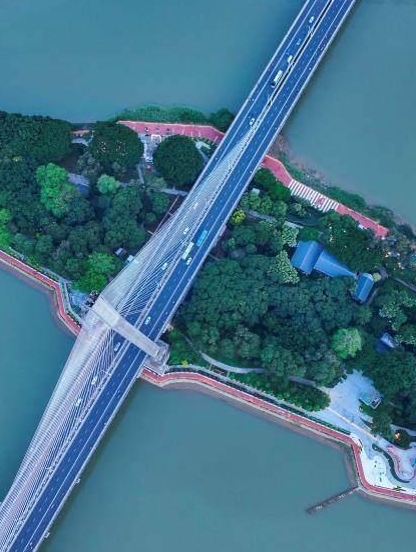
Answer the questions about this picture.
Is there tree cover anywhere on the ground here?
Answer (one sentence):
Yes, there is tree cover in the image.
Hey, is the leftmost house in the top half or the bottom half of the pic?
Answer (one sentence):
It is in the top half that the leftmost house appears.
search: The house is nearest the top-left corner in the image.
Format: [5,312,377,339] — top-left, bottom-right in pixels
[66,173,91,194]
